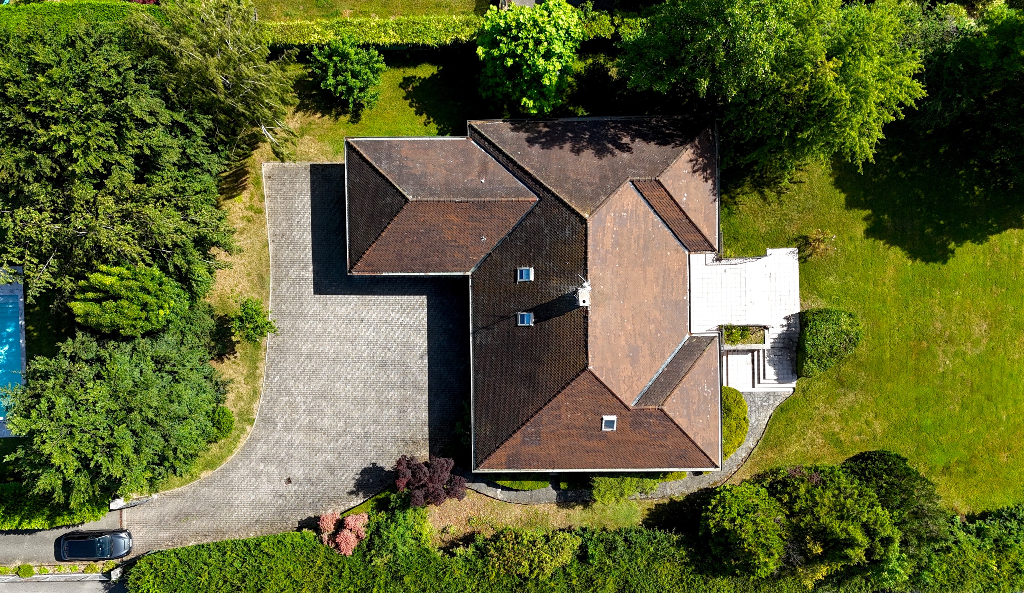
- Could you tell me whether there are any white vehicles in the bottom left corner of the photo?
No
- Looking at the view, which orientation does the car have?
from left to right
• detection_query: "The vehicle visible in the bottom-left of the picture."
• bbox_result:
[54,526,131,566]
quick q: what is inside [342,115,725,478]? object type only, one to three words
house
